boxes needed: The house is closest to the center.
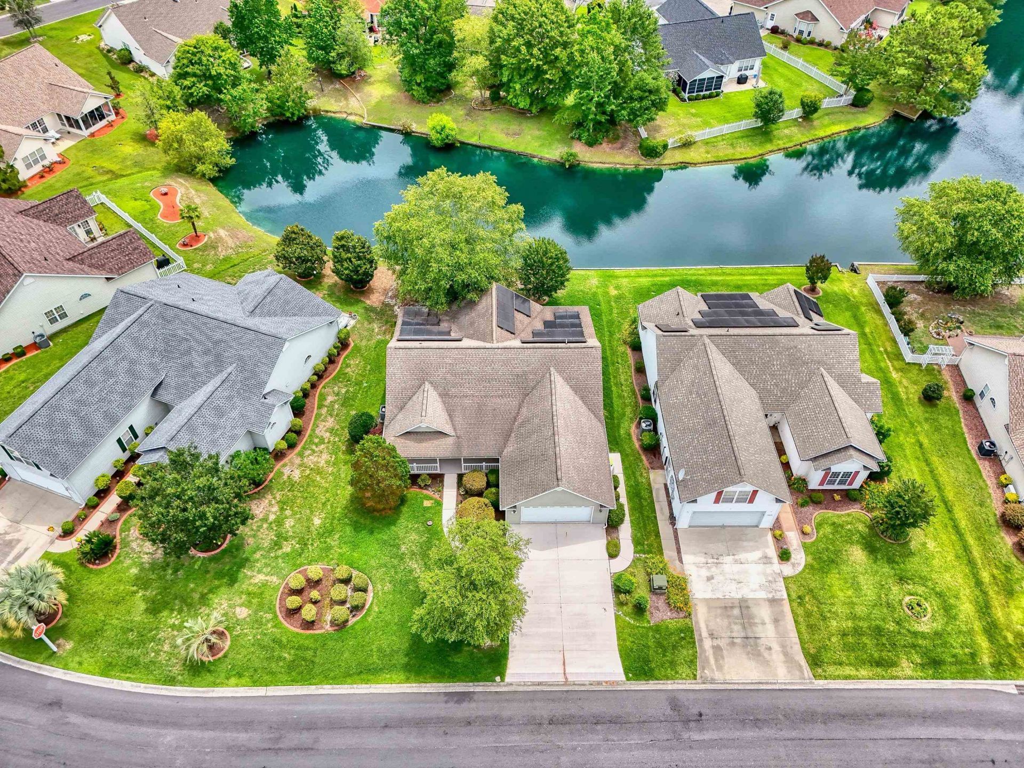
[382,282,617,529]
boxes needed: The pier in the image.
[892,103,924,123]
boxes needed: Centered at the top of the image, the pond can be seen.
[214,0,1024,271]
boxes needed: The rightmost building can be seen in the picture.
[958,337,1024,501]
